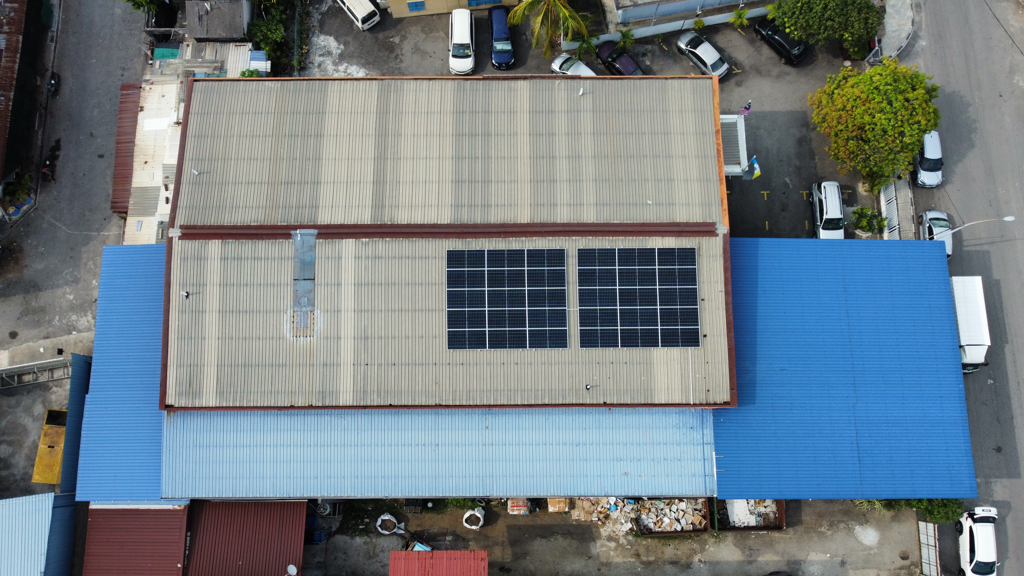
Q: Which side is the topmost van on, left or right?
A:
left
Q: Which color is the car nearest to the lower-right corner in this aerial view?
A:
white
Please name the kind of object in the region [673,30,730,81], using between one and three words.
car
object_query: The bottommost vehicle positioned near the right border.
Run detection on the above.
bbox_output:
[954,504,1000,576]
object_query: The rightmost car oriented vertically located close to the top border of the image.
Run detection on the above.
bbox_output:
[489,10,518,71]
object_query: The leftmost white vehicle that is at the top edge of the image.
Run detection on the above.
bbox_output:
[333,0,378,33]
